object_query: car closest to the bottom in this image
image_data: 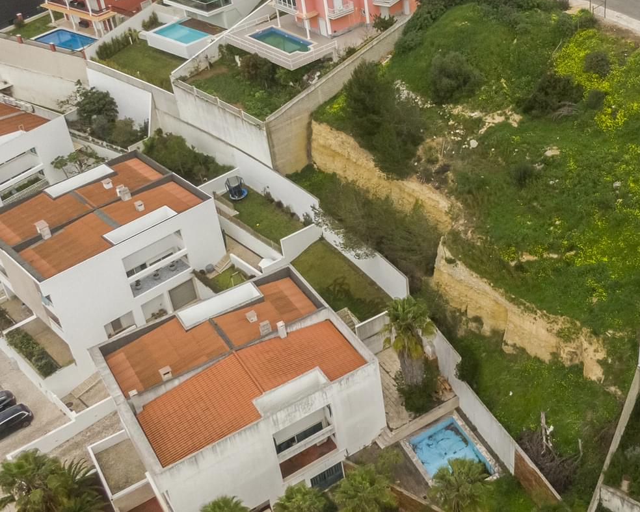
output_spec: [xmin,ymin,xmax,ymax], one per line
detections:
[0,398,41,435]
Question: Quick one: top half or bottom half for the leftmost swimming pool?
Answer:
top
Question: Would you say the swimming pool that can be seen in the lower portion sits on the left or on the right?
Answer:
right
